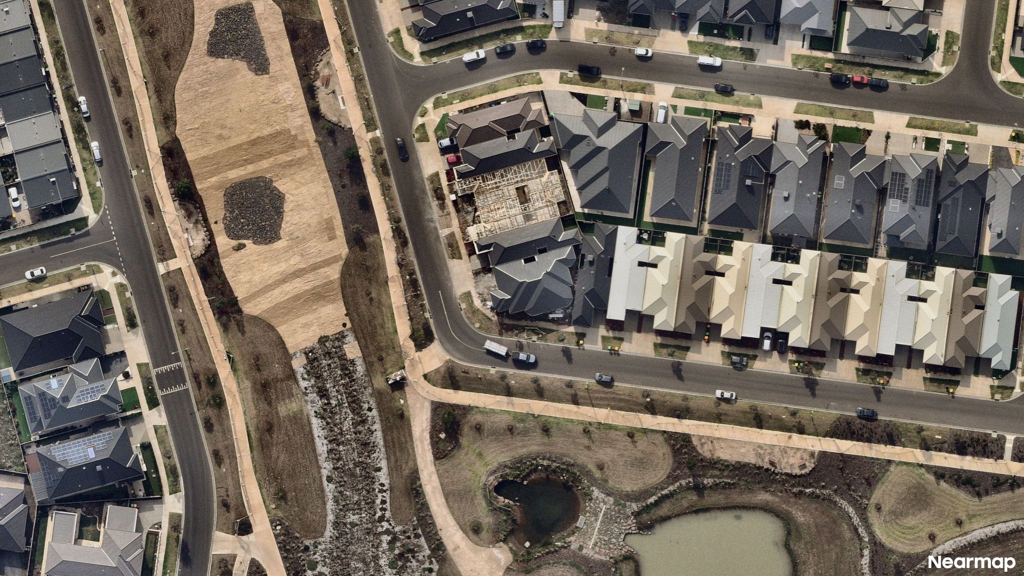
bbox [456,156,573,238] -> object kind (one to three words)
building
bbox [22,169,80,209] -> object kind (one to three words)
house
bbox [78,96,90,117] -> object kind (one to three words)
vehicle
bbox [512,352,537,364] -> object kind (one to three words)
vehicle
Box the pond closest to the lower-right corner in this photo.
[624,507,795,576]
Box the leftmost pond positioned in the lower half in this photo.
[494,476,581,545]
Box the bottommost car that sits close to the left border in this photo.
[25,267,46,279]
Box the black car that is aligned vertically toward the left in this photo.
[396,137,409,161]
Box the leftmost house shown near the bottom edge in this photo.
[0,486,28,553]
